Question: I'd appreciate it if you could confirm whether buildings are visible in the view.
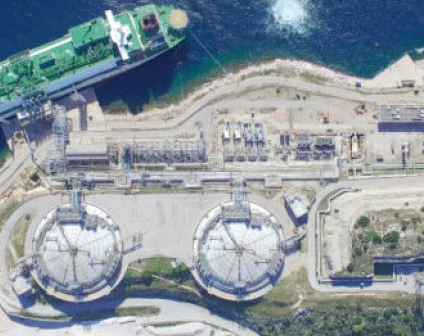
Yes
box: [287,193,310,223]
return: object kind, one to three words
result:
building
